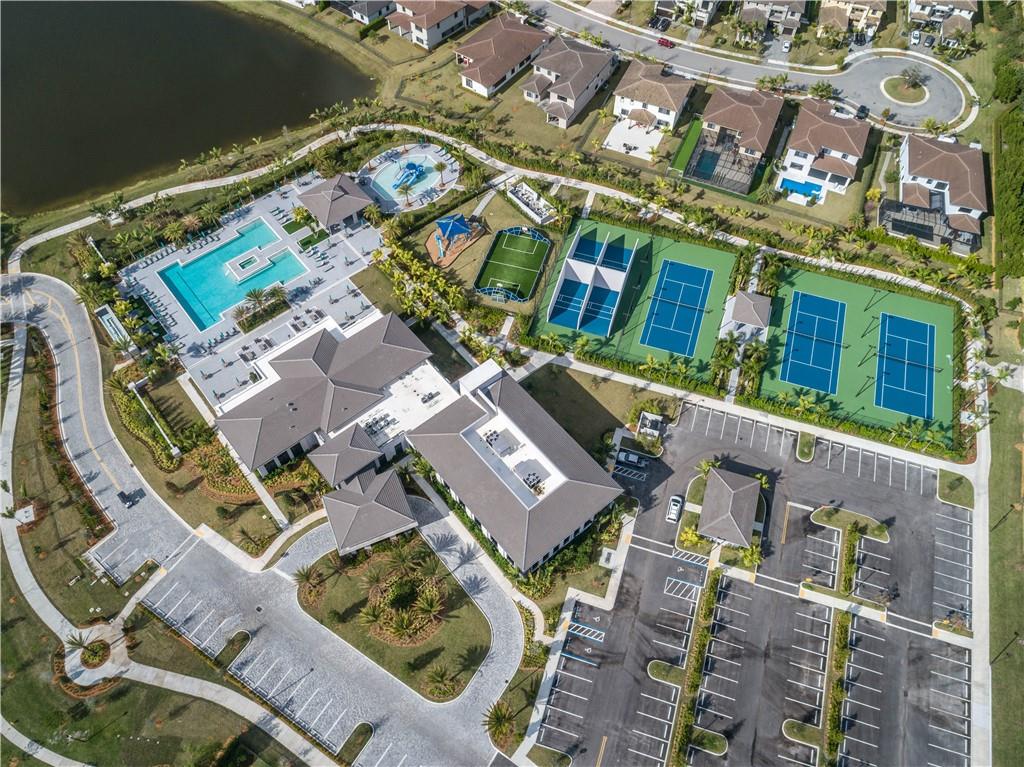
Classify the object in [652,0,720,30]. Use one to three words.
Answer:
house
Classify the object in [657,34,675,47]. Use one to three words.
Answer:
vehicle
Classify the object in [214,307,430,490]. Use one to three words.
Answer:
building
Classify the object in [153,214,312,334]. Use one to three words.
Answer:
swimming pool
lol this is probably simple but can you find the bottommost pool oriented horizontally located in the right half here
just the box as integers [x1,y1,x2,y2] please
[890,217,935,239]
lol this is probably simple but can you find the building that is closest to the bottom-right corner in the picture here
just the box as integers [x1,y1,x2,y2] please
[698,467,760,547]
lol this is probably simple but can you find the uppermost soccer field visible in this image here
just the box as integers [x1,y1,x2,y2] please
[473,220,552,304]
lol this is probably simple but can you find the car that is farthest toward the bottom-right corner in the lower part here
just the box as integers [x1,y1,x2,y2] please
[667,496,683,522]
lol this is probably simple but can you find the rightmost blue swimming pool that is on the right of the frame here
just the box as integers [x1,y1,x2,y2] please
[780,177,823,199]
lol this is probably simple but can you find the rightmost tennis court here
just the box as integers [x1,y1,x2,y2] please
[856,285,954,443]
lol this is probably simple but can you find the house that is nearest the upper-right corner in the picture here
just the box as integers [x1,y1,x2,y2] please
[901,0,977,46]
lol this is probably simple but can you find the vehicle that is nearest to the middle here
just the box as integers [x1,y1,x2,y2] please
[617,450,648,467]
